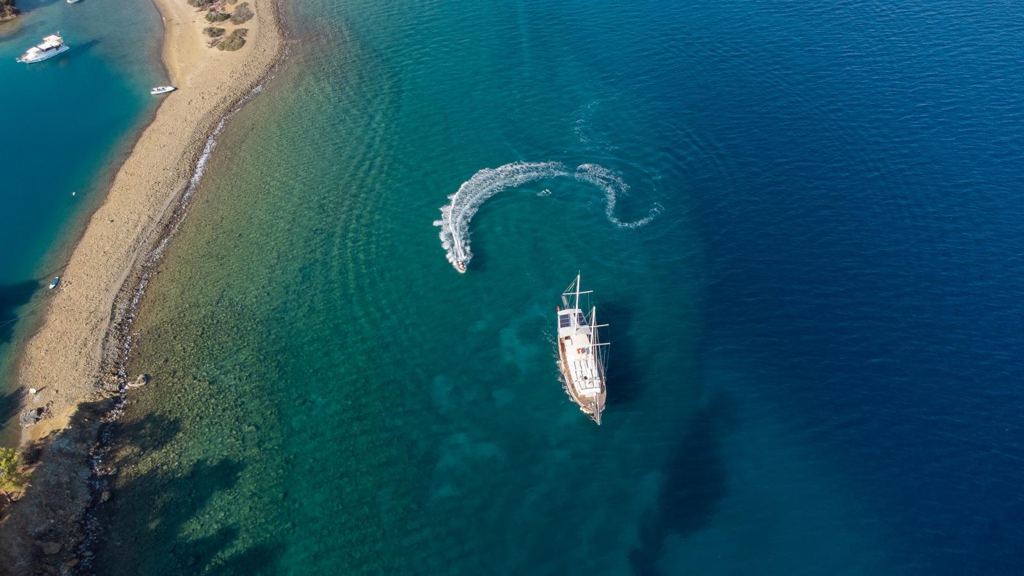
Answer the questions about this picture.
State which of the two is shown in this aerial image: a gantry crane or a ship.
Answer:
ship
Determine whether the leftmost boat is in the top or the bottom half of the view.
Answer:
top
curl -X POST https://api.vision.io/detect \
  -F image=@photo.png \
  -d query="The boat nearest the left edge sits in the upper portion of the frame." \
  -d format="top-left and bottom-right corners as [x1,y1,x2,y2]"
[12,36,71,66]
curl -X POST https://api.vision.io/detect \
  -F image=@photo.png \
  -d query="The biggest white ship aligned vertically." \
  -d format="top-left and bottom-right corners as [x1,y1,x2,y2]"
[553,275,609,426]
